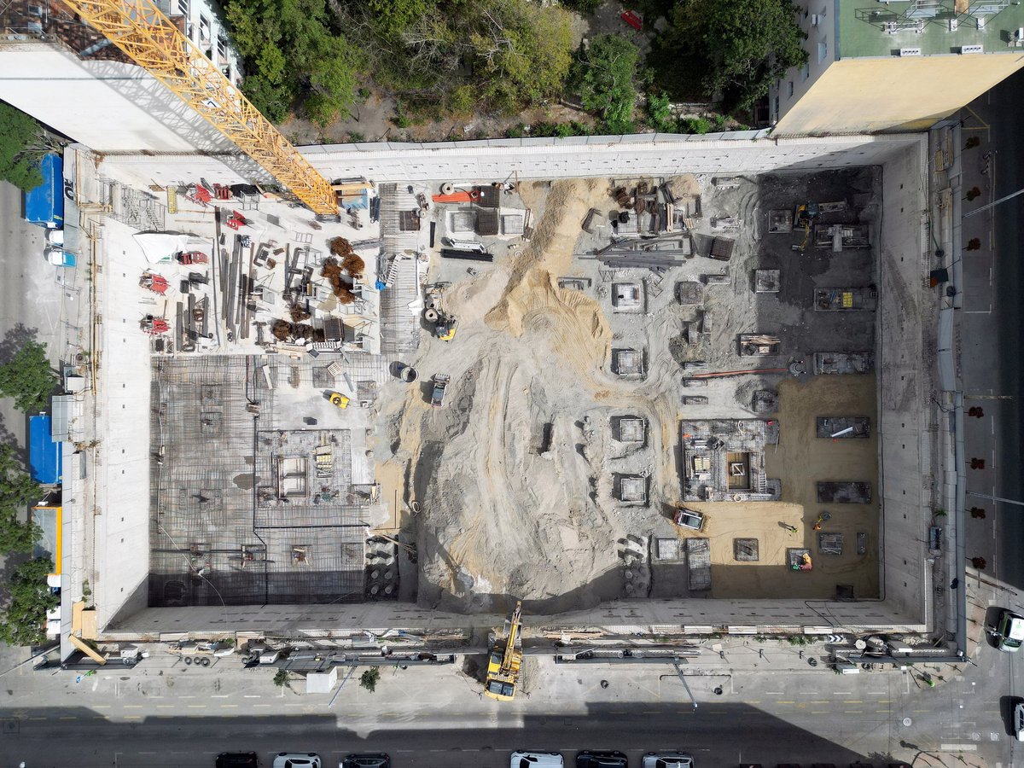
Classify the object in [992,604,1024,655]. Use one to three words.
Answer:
car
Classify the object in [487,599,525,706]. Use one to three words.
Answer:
work vehicle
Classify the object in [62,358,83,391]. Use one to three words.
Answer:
building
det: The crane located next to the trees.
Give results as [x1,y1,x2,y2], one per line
[66,0,339,222]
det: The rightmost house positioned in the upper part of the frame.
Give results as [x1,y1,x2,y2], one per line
[768,0,1024,137]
